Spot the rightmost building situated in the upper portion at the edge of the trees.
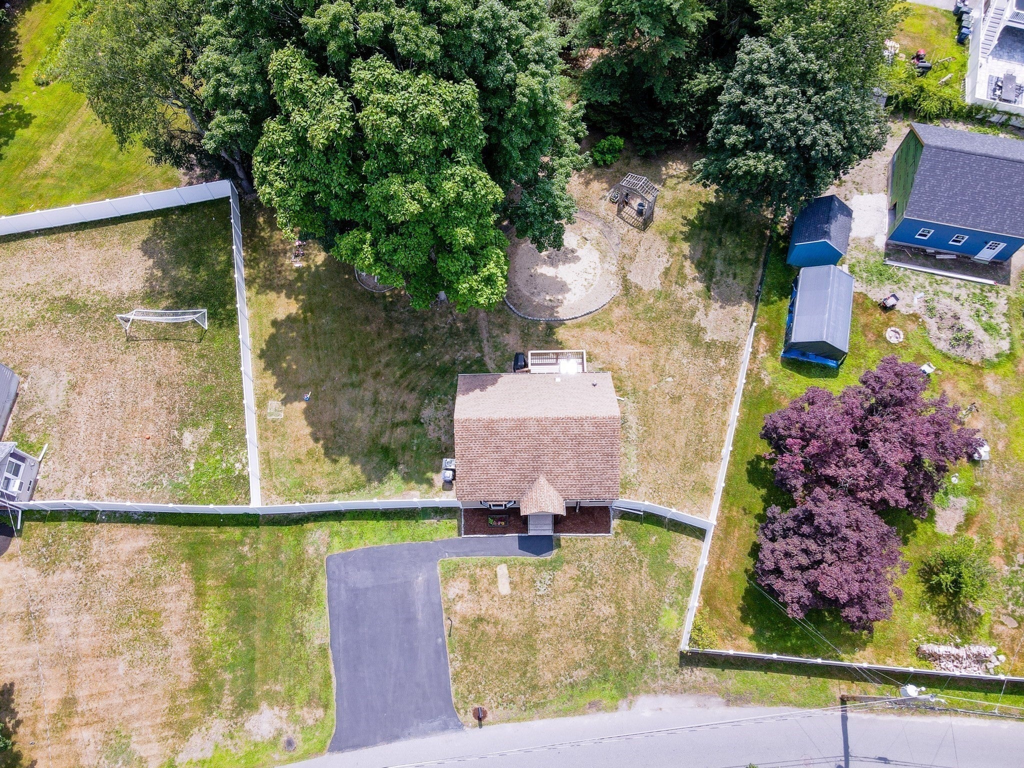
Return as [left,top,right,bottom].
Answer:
[887,122,1024,261]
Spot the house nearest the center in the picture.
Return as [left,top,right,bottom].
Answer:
[454,371,621,525]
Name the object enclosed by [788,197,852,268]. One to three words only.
shed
